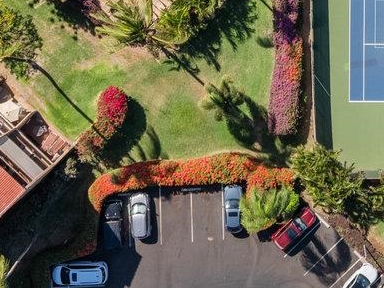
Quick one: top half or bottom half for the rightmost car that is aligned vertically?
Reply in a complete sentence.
Seen from above, the rightmost car that is aligned vertically lies in the bottom half of the view.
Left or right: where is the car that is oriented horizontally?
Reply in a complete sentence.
The car that is oriented horizontally sits on the left side.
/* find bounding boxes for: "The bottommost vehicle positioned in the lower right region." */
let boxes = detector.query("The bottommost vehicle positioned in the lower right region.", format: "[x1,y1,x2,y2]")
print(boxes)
[338,257,381,288]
